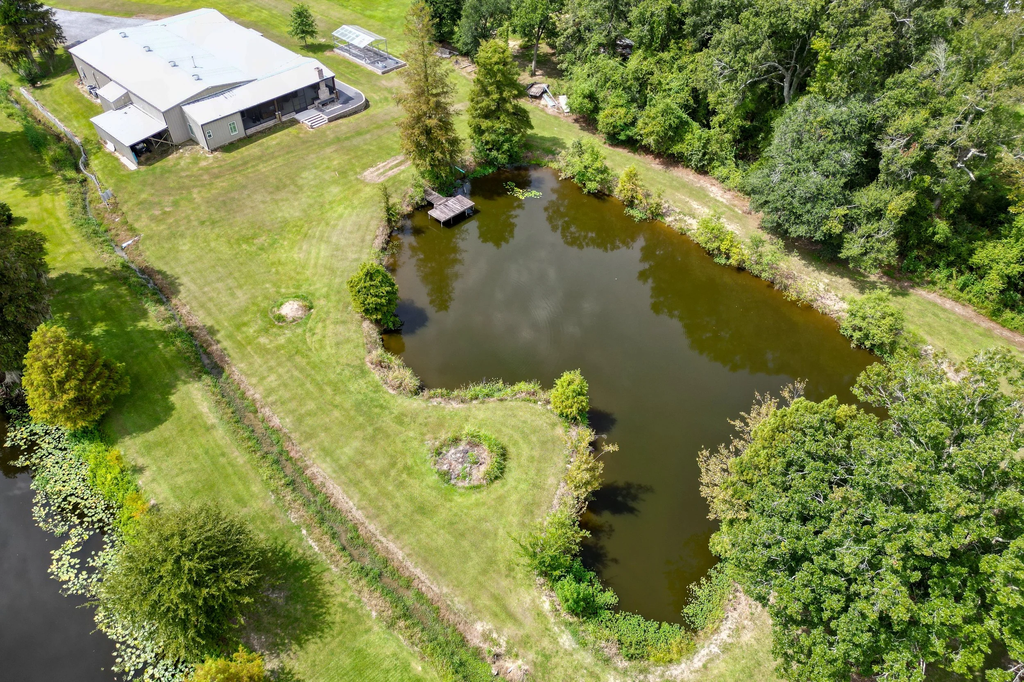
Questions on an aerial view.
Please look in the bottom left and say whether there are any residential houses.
No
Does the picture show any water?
Yes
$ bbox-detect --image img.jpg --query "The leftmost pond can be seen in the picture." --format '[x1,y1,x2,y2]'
[0,399,187,682]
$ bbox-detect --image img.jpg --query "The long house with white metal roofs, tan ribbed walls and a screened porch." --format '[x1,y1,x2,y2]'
[65,7,339,166]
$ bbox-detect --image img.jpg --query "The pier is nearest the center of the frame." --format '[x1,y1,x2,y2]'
[411,185,475,230]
